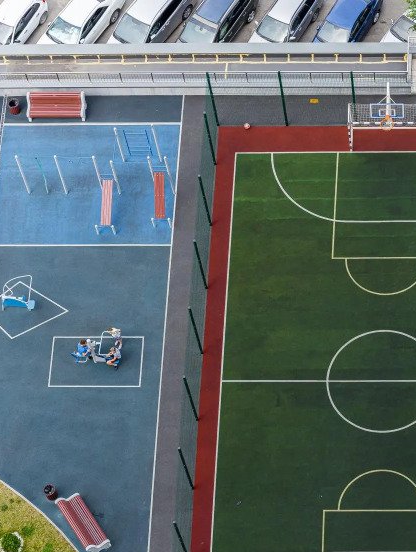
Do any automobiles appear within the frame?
Yes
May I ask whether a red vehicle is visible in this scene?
No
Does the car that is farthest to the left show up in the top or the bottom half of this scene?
top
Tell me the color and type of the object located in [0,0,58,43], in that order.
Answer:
white car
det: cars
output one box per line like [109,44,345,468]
[109,0,193,43]
[40,0,126,43]
[174,0,258,43]
[0,0,58,43]
[375,0,416,46]
[309,0,390,43]
[248,0,331,43]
